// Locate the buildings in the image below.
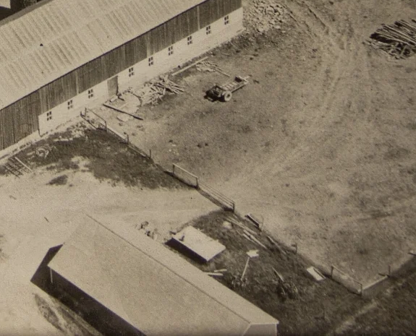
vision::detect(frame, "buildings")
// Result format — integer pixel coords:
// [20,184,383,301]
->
[46,215,279,336]
[0,0,244,158]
